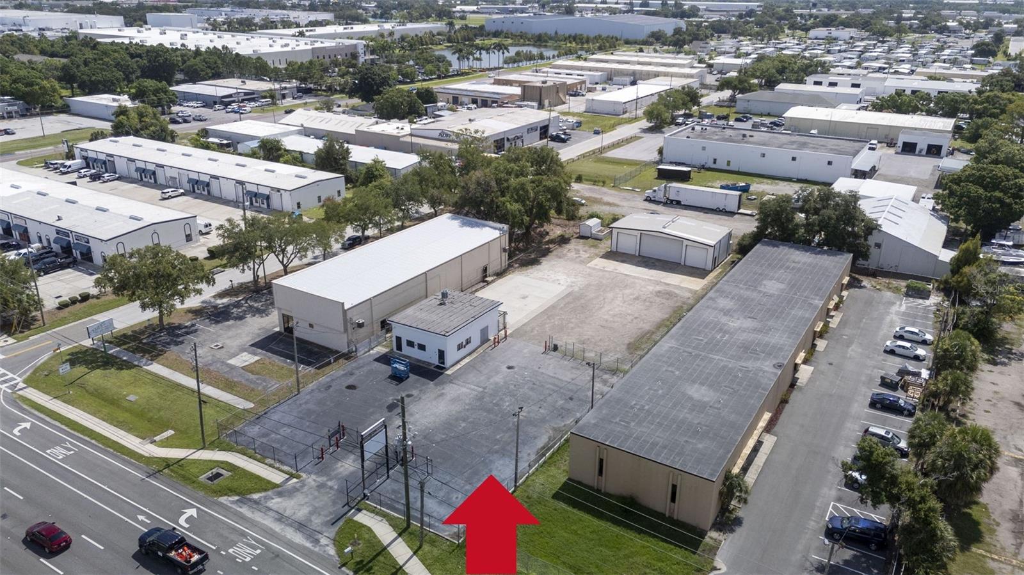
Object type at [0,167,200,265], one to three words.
building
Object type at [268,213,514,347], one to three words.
warehouse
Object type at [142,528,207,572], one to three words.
truck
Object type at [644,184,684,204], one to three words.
vehicle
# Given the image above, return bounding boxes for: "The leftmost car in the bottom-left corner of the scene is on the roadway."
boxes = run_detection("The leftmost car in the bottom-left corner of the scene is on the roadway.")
[24,522,73,555]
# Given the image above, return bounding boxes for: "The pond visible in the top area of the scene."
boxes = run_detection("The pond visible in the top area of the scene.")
[437,45,608,70]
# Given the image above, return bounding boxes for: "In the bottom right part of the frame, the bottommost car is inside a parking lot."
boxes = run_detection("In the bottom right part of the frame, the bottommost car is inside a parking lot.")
[825,514,893,551]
